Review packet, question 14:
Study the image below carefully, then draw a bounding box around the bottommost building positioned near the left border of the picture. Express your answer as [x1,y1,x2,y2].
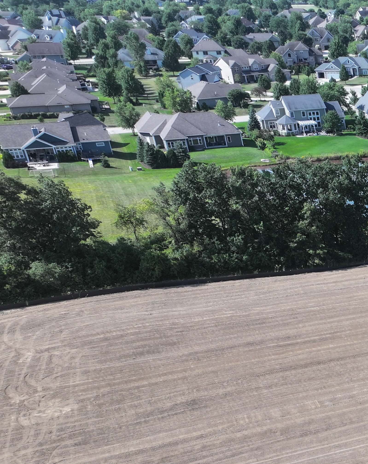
[0,119,121,162]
